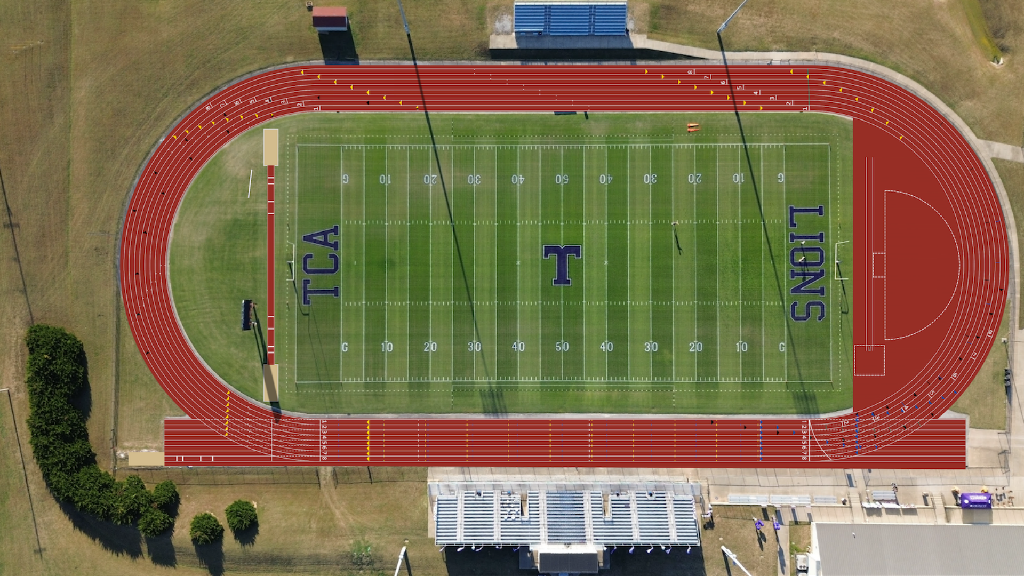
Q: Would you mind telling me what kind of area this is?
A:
sports ground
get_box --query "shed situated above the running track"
[312,7,347,33]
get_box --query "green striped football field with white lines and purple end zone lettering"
[170,113,853,413]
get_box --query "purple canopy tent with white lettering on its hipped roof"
[956,491,991,508]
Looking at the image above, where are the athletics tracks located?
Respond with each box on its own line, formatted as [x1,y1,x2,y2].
[120,65,1009,469]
